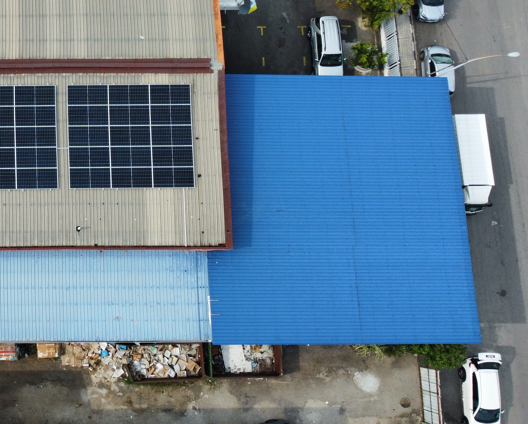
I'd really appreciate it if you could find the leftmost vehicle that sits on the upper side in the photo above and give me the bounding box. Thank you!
[311,20,352,75]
